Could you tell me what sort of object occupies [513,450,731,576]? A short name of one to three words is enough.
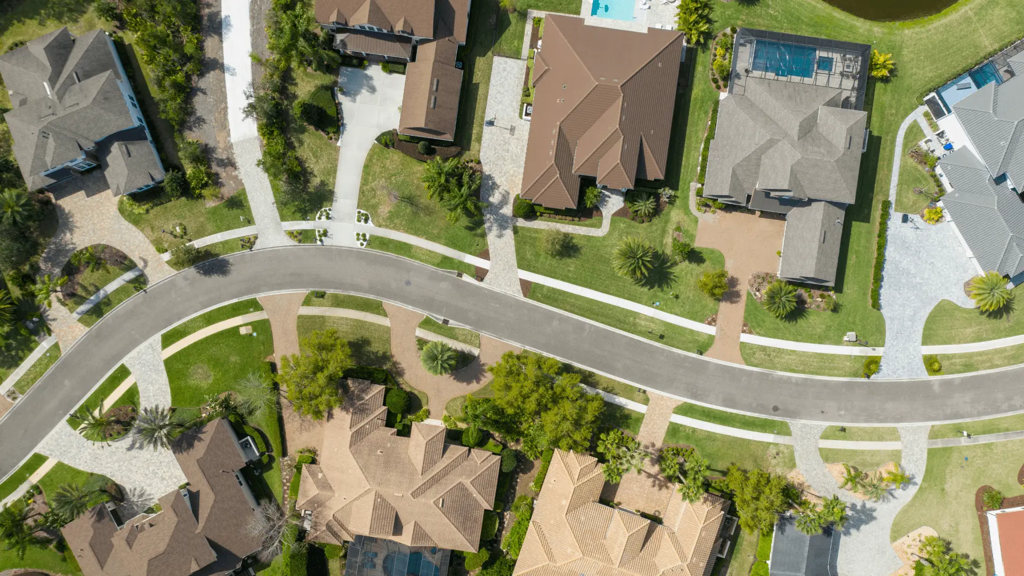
house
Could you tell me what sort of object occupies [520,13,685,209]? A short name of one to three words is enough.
house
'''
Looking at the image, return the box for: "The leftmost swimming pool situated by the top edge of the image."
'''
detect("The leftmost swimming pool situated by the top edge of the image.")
[588,0,637,23]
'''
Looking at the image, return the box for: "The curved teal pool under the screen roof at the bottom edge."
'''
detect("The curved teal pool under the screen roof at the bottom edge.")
[381,552,442,576]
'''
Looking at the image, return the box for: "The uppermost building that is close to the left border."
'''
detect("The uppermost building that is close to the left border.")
[0,27,168,197]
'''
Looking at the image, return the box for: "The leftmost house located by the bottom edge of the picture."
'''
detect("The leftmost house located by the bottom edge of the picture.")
[60,416,265,576]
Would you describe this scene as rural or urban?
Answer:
urban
